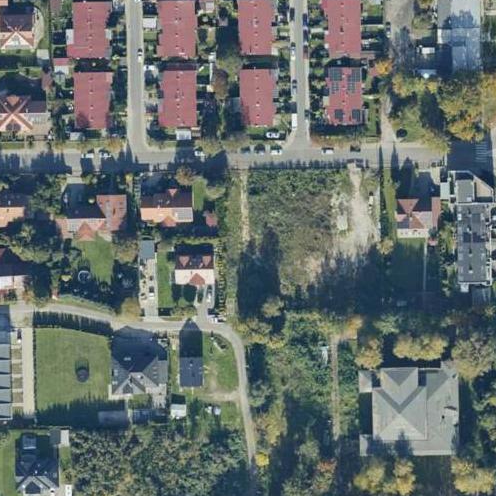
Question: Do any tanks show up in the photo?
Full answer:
No, I can see no tank in this picture.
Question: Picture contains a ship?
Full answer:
No, no ship is visible in the view.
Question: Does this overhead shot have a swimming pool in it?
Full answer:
No, the frame has no swimming pool in it.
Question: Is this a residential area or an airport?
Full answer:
The area seen from above is a residential area.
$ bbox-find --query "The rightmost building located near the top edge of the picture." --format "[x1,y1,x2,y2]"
[437,0,480,70]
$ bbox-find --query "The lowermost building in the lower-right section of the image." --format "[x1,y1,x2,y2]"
[360,362,458,456]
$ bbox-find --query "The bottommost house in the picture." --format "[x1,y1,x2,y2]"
[15,449,59,496]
